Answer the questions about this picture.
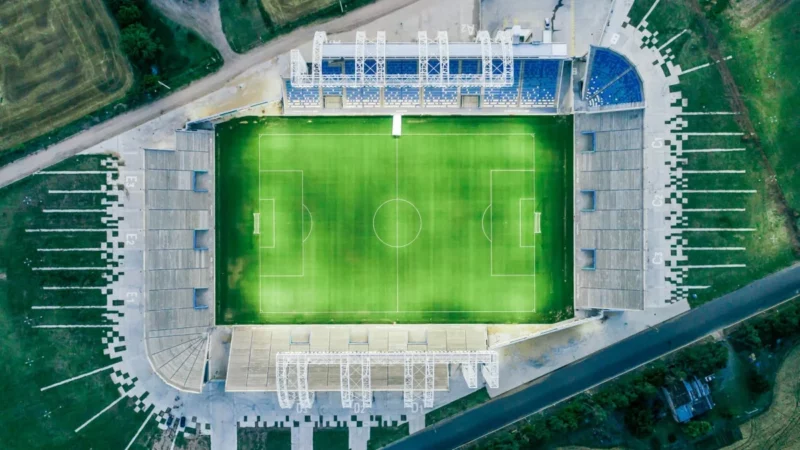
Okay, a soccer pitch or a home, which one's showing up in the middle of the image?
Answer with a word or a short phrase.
soccer pitch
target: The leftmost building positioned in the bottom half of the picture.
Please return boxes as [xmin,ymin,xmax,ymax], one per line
[662,376,714,423]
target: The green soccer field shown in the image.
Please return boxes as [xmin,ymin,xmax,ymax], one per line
[216,114,574,324]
